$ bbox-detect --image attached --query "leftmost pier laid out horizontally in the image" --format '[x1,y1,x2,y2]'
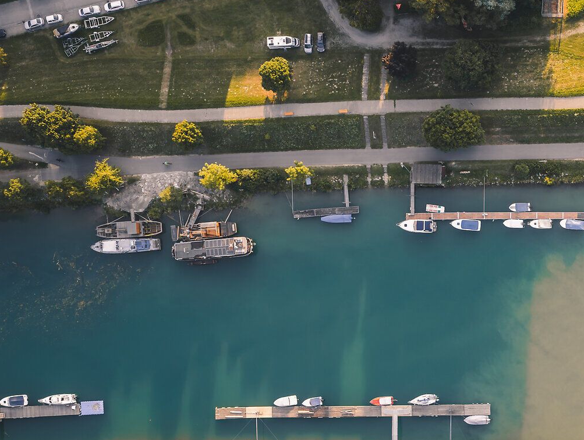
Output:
[0,403,80,421]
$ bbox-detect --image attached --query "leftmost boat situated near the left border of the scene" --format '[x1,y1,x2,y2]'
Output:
[0,394,31,407]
